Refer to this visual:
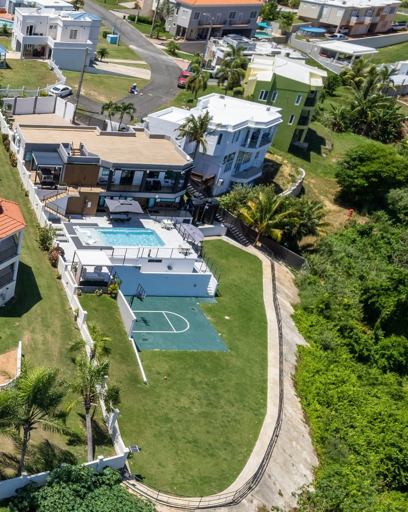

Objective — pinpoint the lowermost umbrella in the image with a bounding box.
[175,226,207,245]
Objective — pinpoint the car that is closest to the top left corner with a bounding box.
[44,81,76,94]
